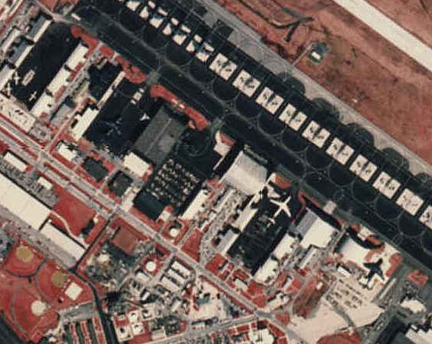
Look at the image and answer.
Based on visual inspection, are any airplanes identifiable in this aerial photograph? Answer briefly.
Yes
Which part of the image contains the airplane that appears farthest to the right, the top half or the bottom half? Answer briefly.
bottom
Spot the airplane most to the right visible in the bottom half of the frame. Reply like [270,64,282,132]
[361,259,382,286]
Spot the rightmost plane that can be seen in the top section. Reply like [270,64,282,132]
[191,35,214,61]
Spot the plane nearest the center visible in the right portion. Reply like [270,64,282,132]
[267,196,289,222]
